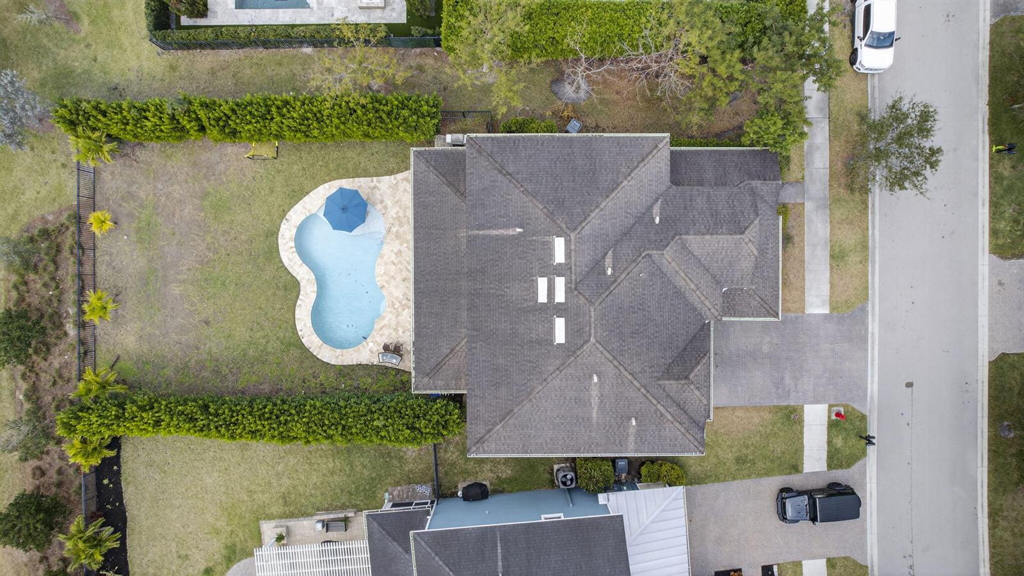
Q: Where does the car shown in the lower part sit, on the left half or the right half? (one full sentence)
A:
The car shown in the lower part appears in the right half of the scene.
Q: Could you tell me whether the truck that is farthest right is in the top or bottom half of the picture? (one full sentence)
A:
You can find the truck that is farthest right in the top half.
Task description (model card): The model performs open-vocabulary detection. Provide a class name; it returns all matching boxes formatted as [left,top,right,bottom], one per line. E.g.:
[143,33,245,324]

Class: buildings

[410,132,784,458]
[363,481,692,576]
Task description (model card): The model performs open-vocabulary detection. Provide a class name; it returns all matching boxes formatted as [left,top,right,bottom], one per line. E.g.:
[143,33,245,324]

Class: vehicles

[848,0,901,75]
[776,481,862,526]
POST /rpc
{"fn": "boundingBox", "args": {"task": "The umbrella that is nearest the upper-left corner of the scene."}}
[324,187,368,233]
